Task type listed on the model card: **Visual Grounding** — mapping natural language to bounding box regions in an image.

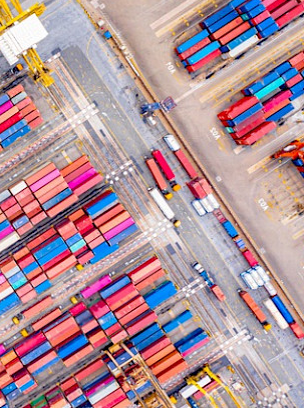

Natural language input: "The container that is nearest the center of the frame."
[147,186,174,215]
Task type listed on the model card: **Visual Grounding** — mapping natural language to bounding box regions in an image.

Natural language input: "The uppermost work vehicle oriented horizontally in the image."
[134,99,178,115]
